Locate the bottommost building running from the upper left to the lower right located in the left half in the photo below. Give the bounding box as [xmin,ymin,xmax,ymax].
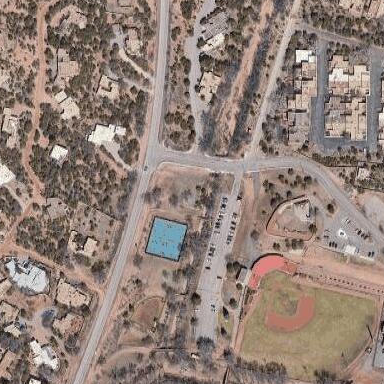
[26,339,60,368]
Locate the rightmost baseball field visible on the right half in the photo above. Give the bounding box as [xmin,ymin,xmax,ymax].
[235,269,379,382]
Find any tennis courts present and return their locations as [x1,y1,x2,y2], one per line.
[146,216,187,261]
